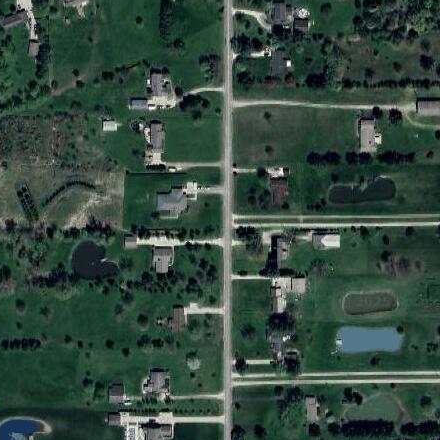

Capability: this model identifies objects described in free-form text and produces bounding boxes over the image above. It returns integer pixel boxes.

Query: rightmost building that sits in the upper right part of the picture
[417,97,440,115]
